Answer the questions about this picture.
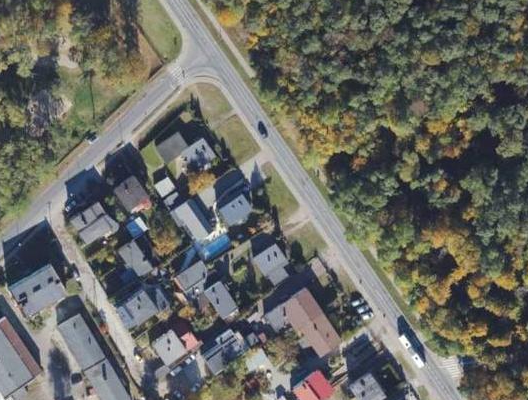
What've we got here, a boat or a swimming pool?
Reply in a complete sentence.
Looking from above, you can make out a swimming pool.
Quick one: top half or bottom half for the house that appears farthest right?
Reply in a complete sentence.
You can find the house that appears farthest right in the bottom half.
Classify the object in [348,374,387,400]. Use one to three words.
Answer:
house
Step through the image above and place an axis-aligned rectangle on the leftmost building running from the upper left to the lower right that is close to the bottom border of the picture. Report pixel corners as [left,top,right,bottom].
[59,314,130,400]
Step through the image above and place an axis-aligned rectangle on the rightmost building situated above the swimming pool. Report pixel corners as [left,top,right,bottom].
[219,195,253,227]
